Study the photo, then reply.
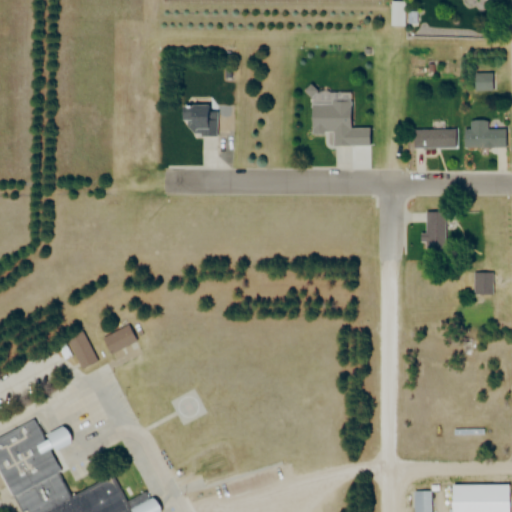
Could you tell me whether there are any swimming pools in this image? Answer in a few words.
No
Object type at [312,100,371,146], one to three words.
house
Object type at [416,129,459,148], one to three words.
house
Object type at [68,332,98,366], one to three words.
building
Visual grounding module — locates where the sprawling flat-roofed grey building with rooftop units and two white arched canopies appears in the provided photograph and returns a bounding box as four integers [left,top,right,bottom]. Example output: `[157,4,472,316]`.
[0,418,160,512]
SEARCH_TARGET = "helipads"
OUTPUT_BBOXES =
[172,390,208,425]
